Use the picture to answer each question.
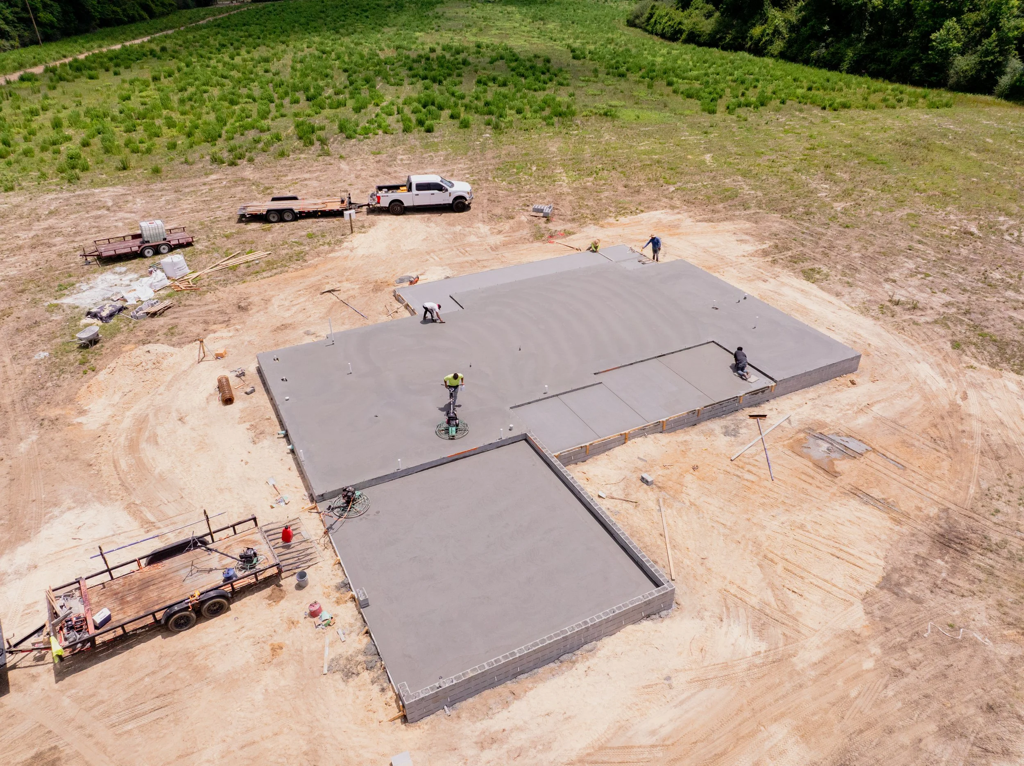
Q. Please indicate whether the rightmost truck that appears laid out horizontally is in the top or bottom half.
top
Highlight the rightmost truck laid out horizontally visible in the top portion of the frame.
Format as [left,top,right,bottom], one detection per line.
[373,173,476,215]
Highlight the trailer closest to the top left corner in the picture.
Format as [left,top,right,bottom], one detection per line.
[74,226,194,261]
